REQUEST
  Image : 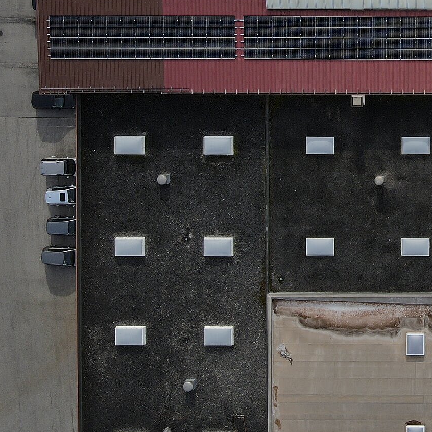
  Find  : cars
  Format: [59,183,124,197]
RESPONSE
[27,92,78,115]
[44,185,78,206]
[38,153,78,179]
[45,214,78,235]
[40,242,78,265]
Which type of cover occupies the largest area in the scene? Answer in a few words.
buildings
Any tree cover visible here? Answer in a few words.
No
